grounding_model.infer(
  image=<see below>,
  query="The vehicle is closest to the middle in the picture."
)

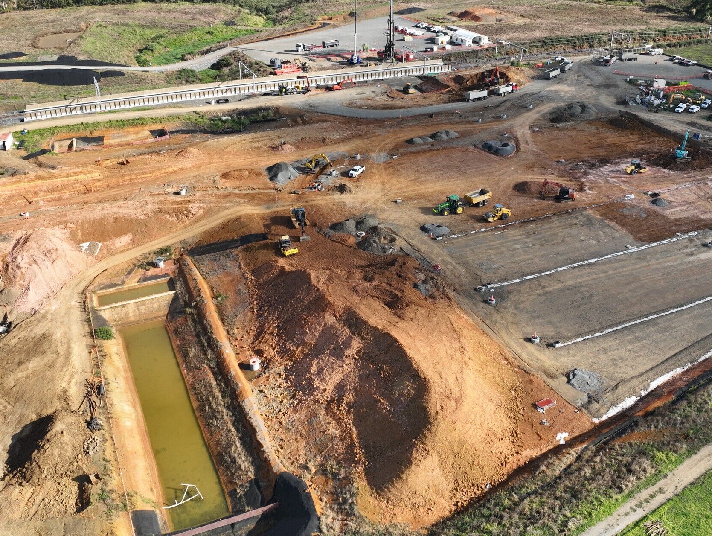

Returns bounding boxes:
[294,208,311,234]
